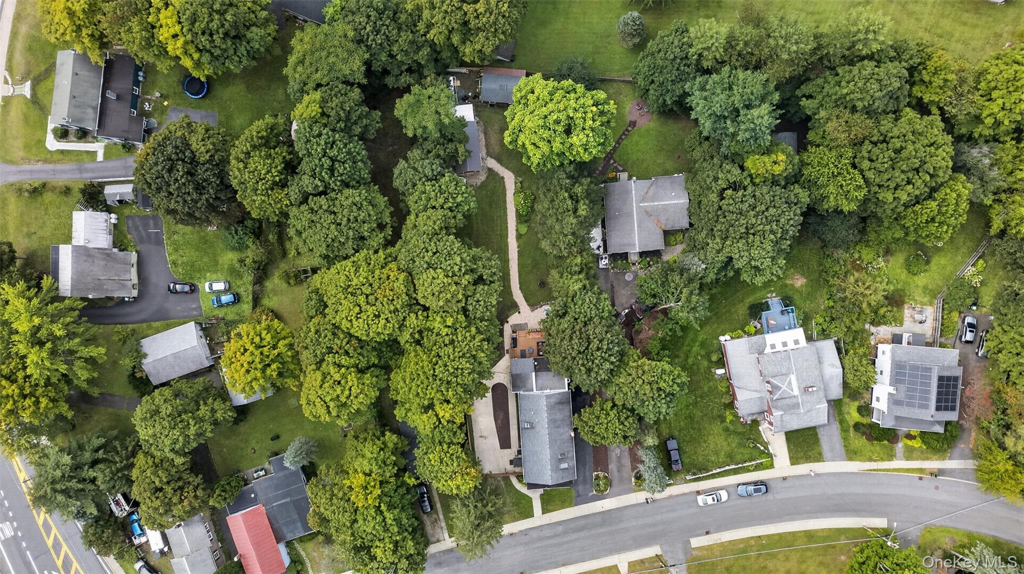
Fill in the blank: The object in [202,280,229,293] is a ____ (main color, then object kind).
white vehicle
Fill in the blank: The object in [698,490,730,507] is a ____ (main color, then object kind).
white car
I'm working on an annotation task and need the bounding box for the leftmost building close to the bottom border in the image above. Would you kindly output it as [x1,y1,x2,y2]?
[165,511,224,574]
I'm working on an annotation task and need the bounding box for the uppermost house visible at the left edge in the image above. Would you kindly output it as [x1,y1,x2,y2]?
[50,48,149,144]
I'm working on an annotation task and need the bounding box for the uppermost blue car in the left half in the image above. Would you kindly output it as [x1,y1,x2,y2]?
[209,293,238,307]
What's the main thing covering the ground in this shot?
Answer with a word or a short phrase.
trees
